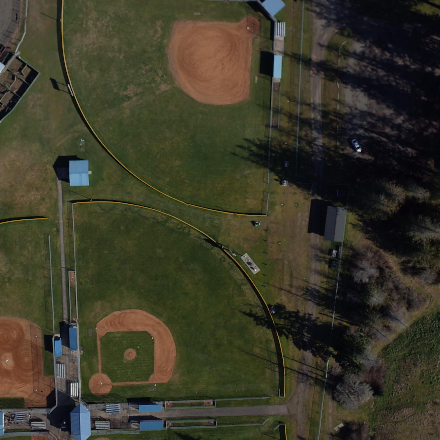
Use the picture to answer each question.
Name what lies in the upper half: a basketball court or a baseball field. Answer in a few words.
baseball field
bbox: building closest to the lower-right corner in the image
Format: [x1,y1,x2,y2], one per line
[323,206,346,242]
